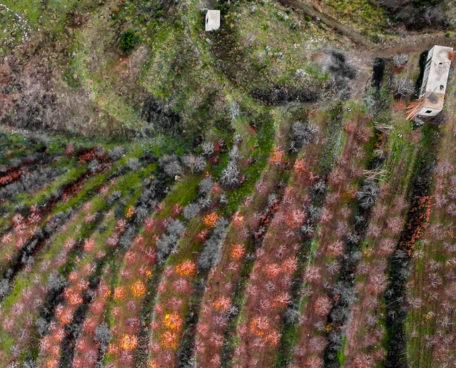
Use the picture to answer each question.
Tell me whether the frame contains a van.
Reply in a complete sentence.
No, this view has no van in it.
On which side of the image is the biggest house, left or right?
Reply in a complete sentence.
The biggest house sits on the right side.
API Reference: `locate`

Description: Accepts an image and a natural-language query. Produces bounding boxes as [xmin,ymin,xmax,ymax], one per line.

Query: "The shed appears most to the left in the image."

[204,9,221,30]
